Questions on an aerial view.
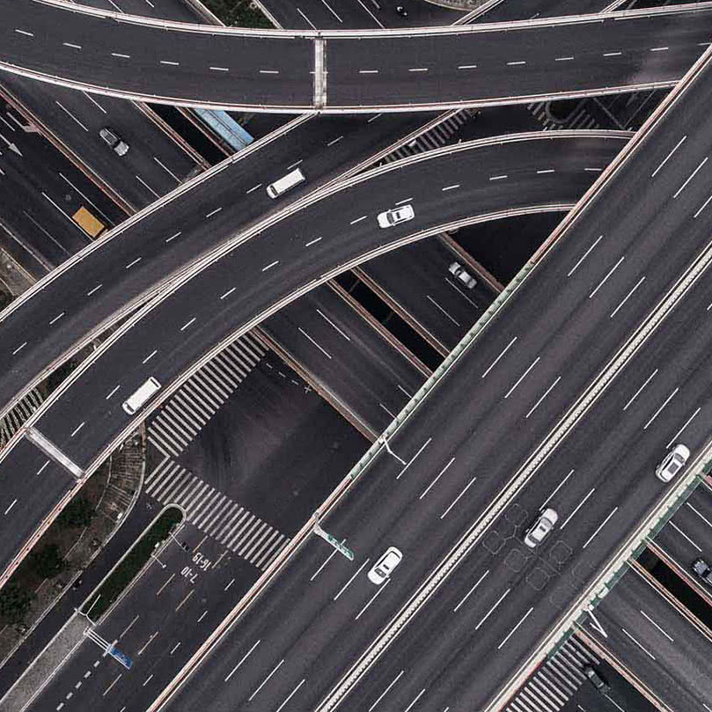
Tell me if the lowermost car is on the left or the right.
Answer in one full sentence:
It is on the right.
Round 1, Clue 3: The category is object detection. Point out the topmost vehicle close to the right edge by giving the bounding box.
[652,443,691,483]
